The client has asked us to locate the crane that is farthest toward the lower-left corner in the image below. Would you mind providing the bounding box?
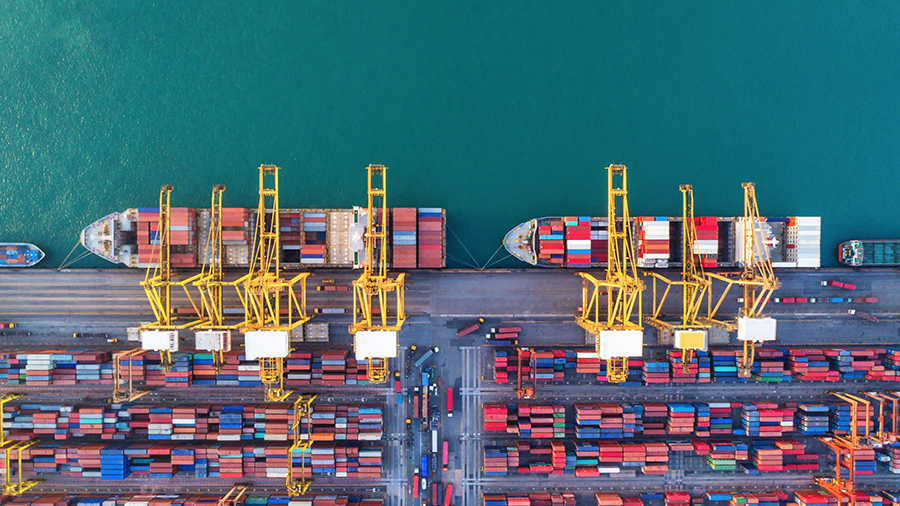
[4,437,45,503]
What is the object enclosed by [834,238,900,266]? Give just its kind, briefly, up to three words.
ship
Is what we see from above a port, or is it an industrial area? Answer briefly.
port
